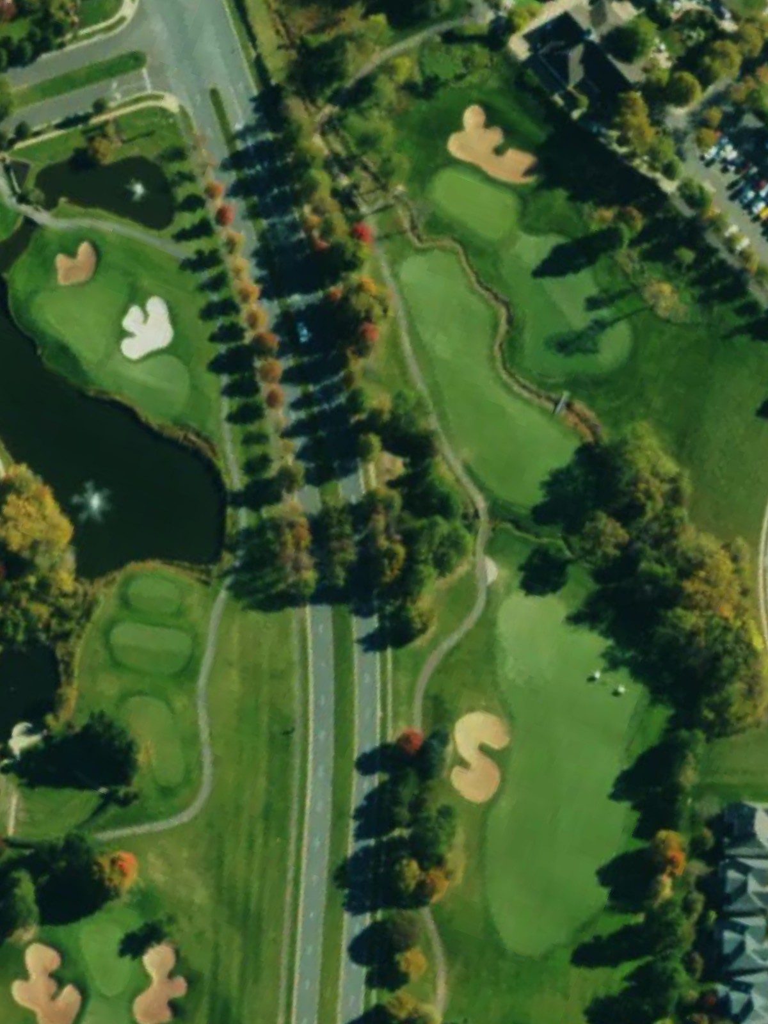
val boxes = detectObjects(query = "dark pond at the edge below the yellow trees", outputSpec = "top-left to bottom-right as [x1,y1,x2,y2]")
[0,643,59,743]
